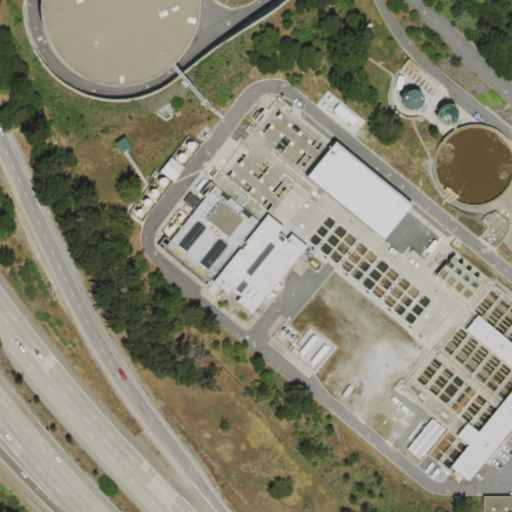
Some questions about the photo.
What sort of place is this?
industrial area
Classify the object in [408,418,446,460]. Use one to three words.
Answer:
shed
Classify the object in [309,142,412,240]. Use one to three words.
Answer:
building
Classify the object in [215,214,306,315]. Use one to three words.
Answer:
building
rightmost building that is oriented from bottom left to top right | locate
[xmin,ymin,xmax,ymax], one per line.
[453,392,512,482]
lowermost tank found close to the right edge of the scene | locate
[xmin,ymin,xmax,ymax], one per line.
[433,123,512,207]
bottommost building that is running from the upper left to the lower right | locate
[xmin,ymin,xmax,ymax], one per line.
[467,316,512,366]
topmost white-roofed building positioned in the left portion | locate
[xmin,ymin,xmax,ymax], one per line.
[160,157,184,182]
